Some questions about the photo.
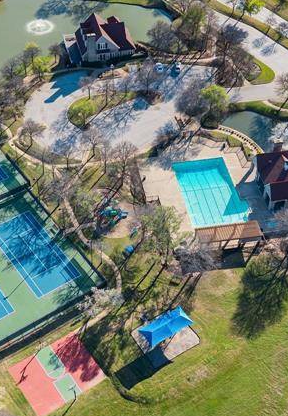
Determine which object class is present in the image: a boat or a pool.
pool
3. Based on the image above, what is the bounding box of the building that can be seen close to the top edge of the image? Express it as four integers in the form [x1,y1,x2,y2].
[56,14,127,71]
